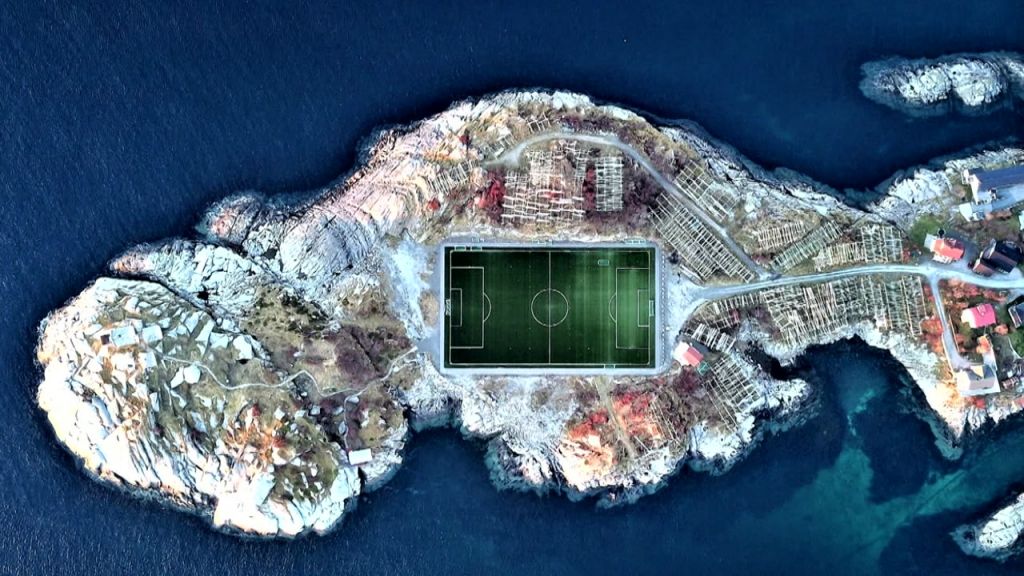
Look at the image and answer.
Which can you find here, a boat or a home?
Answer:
home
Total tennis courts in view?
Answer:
0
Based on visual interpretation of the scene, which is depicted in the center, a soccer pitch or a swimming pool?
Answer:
soccer pitch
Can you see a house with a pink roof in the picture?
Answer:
Yes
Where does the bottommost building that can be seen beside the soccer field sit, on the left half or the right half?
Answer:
right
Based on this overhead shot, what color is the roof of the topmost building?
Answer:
blue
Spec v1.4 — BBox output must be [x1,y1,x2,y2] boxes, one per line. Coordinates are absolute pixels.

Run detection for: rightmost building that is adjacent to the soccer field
[669,336,705,367]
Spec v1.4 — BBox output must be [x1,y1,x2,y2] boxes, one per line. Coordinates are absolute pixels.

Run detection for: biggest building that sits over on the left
[349,448,373,465]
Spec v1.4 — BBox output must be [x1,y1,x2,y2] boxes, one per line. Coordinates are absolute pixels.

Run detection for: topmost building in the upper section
[959,166,1024,203]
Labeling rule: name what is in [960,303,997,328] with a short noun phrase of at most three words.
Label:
house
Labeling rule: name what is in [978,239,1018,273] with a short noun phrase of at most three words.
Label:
house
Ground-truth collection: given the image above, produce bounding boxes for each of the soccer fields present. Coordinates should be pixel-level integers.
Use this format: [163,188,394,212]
[421,236,671,377]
